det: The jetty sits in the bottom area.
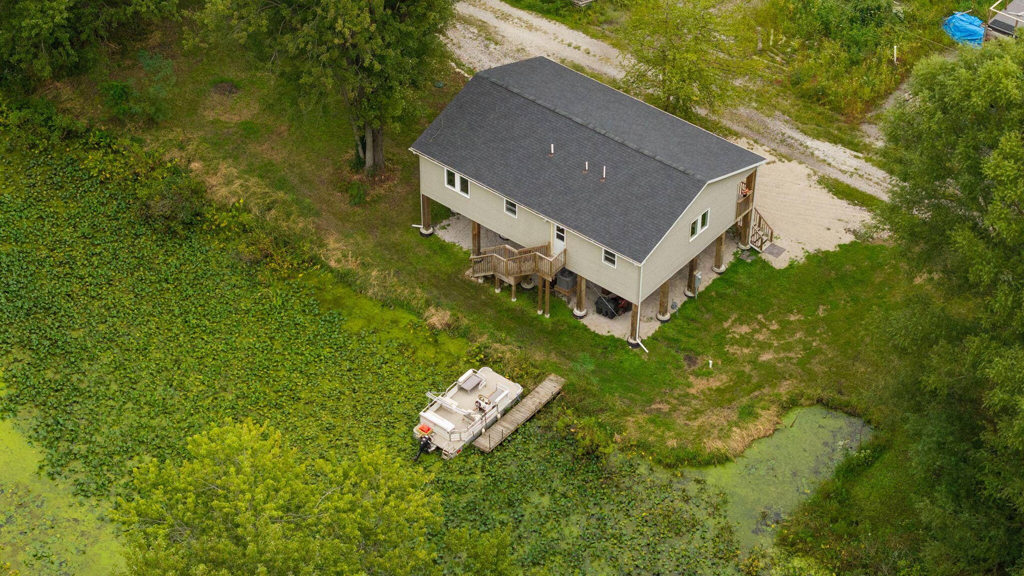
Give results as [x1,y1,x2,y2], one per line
[476,374,572,461]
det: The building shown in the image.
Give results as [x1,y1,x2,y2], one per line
[407,56,769,352]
